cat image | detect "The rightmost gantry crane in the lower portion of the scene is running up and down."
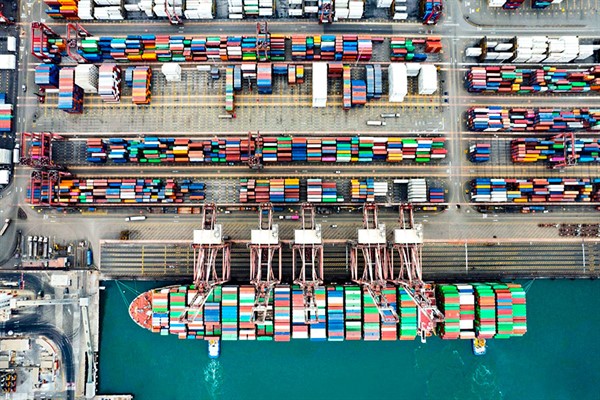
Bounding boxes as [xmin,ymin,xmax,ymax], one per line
[379,202,444,331]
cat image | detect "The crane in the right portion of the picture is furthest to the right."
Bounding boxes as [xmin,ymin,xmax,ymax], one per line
[545,129,577,168]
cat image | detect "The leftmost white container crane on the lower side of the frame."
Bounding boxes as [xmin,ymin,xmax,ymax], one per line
[180,202,242,331]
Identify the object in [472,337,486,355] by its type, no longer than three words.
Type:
boat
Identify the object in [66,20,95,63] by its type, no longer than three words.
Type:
crane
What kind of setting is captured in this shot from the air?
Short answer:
port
